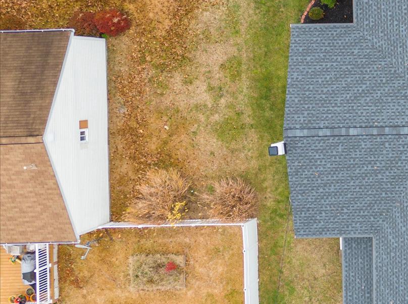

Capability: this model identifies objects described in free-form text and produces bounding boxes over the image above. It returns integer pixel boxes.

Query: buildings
[270,0,408,304]
[0,27,110,247]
